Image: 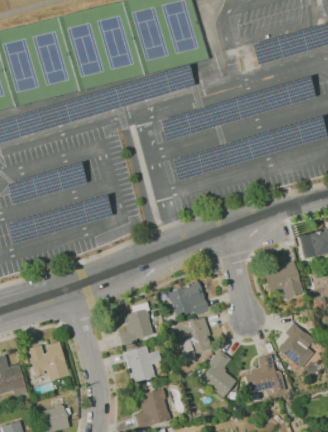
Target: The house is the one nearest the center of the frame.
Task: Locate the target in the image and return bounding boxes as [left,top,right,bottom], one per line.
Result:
[168,282,208,315]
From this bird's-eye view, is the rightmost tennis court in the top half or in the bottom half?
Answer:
top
